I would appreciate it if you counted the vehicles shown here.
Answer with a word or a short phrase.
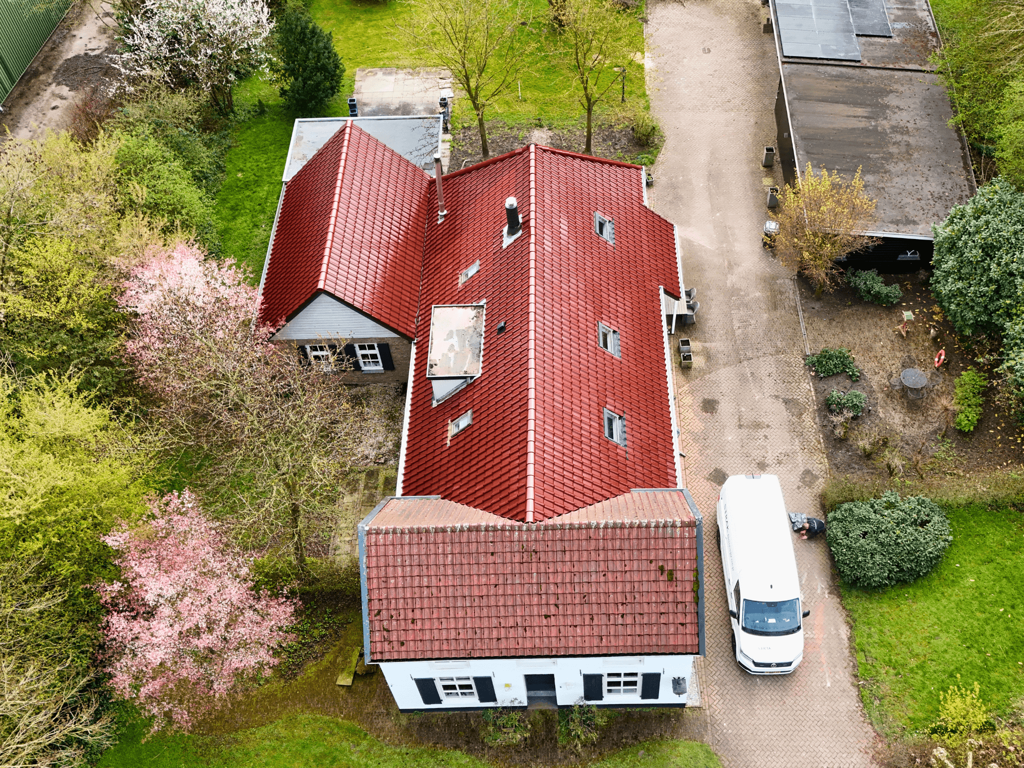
1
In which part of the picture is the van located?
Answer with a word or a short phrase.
bottom right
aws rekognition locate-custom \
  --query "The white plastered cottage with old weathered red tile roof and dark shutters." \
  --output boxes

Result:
[357,483,705,719]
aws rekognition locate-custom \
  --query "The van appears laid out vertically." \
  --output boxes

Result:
[712,470,812,670]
